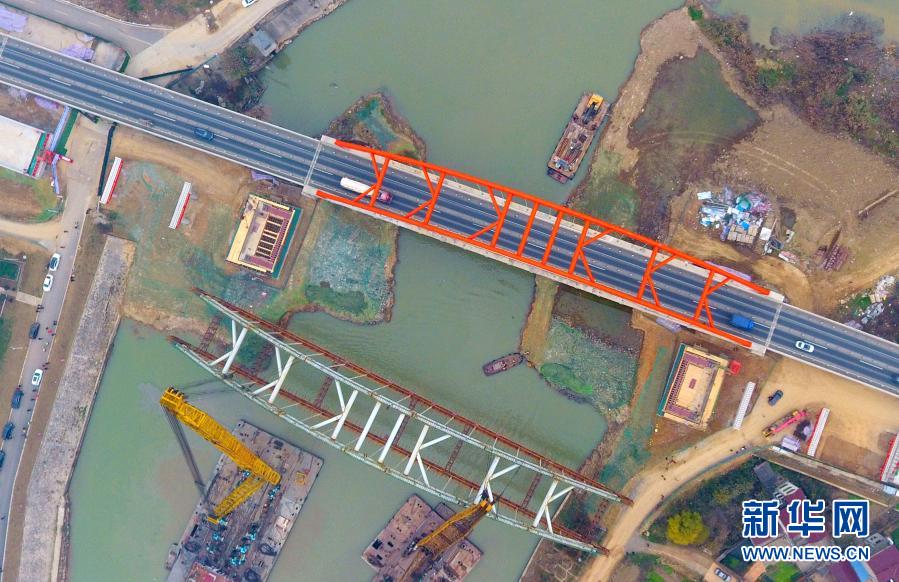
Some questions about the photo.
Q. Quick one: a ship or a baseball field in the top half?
ship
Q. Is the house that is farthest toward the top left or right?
left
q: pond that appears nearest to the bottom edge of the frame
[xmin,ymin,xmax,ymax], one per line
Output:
[553,284,645,347]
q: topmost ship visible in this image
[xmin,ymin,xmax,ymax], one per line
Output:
[547,91,609,187]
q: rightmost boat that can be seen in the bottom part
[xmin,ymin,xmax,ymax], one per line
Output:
[483,353,521,376]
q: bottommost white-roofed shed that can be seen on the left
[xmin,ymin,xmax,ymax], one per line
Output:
[169,182,194,230]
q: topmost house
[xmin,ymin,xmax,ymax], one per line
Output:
[251,29,278,58]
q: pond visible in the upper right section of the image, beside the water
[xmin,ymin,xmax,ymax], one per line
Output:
[629,47,760,147]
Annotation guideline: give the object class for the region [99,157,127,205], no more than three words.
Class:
shed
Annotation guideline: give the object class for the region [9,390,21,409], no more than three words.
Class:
vehicle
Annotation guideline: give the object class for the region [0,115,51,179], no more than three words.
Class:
building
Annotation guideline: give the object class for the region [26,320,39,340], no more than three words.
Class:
vehicle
